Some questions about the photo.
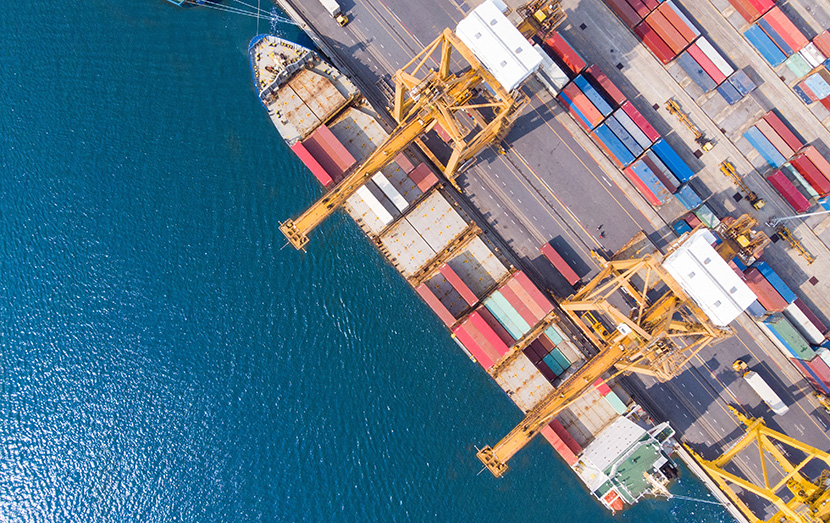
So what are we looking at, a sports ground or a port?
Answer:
port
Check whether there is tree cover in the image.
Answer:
No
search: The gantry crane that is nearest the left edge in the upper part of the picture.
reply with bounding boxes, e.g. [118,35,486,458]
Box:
[270,0,571,260]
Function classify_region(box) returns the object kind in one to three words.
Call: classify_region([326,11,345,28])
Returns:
vehicle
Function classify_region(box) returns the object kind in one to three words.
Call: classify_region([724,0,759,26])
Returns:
shipping container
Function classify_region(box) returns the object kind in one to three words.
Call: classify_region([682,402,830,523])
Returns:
container crane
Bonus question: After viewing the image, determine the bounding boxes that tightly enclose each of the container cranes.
[469,209,772,485]
[682,402,830,523]
[270,0,571,260]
